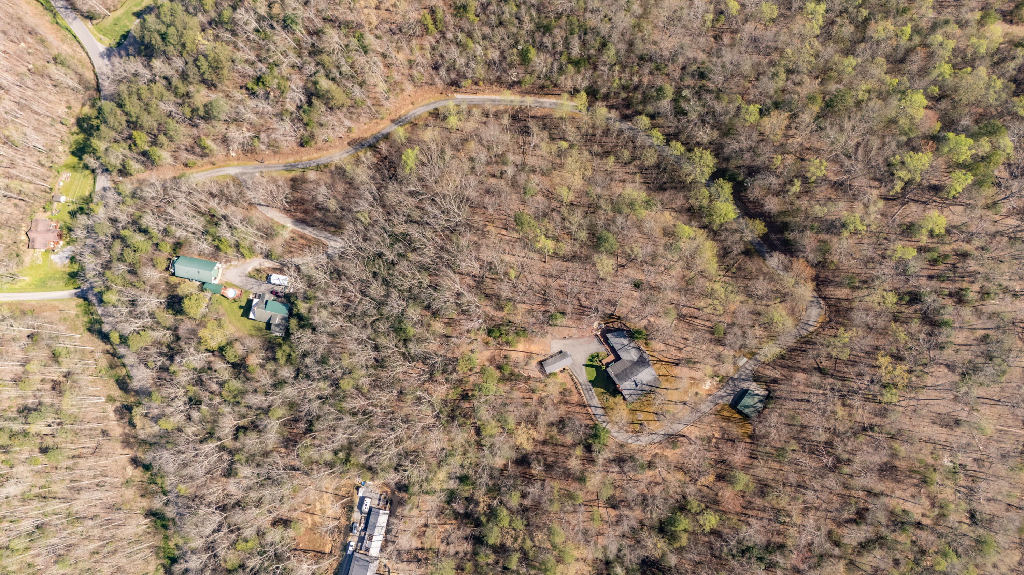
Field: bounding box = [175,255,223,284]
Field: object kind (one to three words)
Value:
barn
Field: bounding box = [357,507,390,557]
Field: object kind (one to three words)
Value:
house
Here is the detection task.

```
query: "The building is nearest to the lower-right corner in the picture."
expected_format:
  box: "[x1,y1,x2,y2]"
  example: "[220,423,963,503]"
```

[736,390,765,420]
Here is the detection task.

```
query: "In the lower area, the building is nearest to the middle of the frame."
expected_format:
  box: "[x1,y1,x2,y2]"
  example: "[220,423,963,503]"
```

[543,352,573,373]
